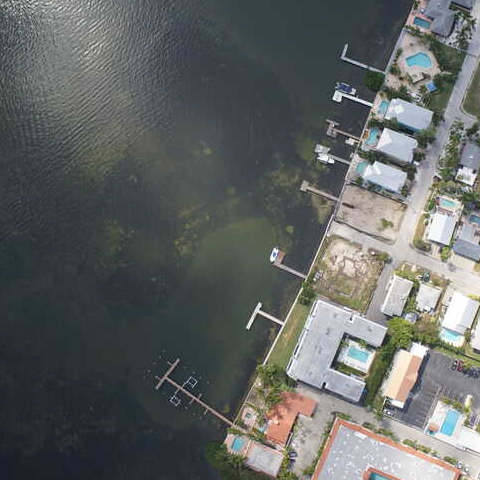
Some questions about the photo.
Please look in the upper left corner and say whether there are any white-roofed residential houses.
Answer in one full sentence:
No, looking in the upper left corner, there is no white-roofed residential house.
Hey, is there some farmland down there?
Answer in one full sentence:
No, the picture contains no farmland.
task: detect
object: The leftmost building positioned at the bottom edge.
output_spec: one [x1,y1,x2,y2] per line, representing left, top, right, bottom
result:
[246,439,283,476]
